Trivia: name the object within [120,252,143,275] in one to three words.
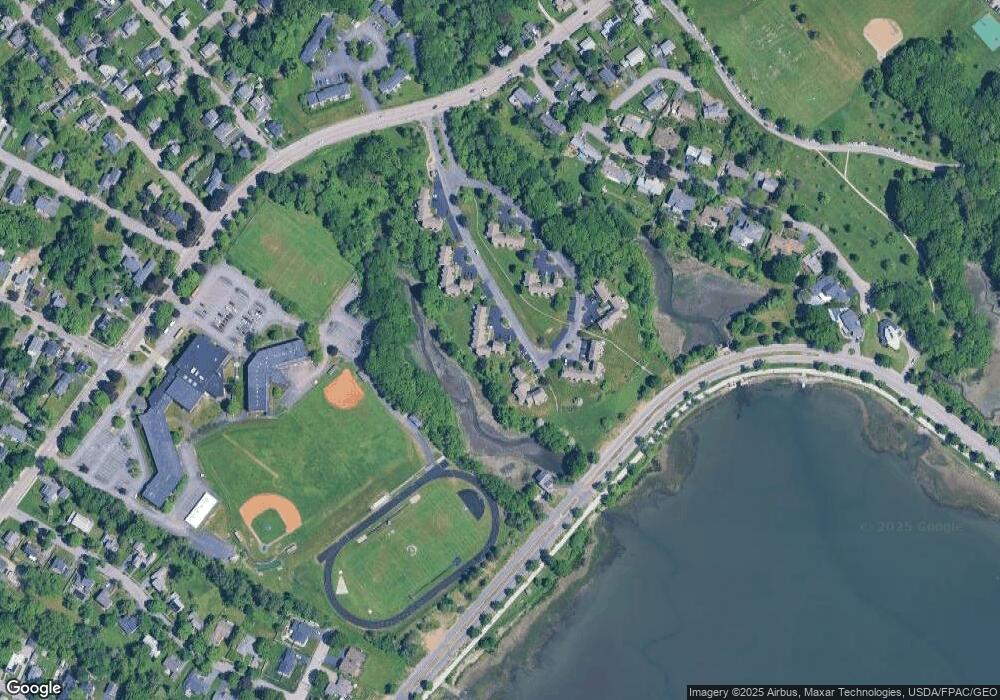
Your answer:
house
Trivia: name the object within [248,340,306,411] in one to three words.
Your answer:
building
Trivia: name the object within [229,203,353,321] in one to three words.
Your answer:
sports field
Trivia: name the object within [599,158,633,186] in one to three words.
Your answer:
house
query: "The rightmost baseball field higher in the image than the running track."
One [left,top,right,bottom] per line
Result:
[324,369,364,409]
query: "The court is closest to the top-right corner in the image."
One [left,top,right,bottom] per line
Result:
[972,13,1000,52]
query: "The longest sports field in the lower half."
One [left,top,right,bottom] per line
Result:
[332,477,492,622]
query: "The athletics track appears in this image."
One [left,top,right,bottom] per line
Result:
[316,461,500,631]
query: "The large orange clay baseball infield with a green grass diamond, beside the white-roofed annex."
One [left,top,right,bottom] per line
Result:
[240,494,302,561]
